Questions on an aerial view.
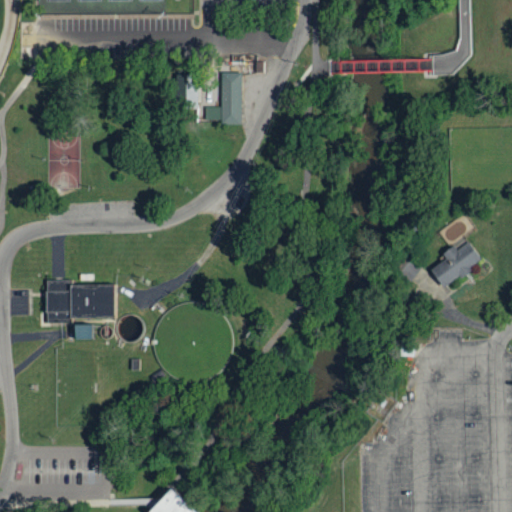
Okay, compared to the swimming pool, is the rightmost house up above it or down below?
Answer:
below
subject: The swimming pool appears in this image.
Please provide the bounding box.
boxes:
[440,216,472,245]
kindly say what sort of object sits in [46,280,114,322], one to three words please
building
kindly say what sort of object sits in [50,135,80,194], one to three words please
basketball court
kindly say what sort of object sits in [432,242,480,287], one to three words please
house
